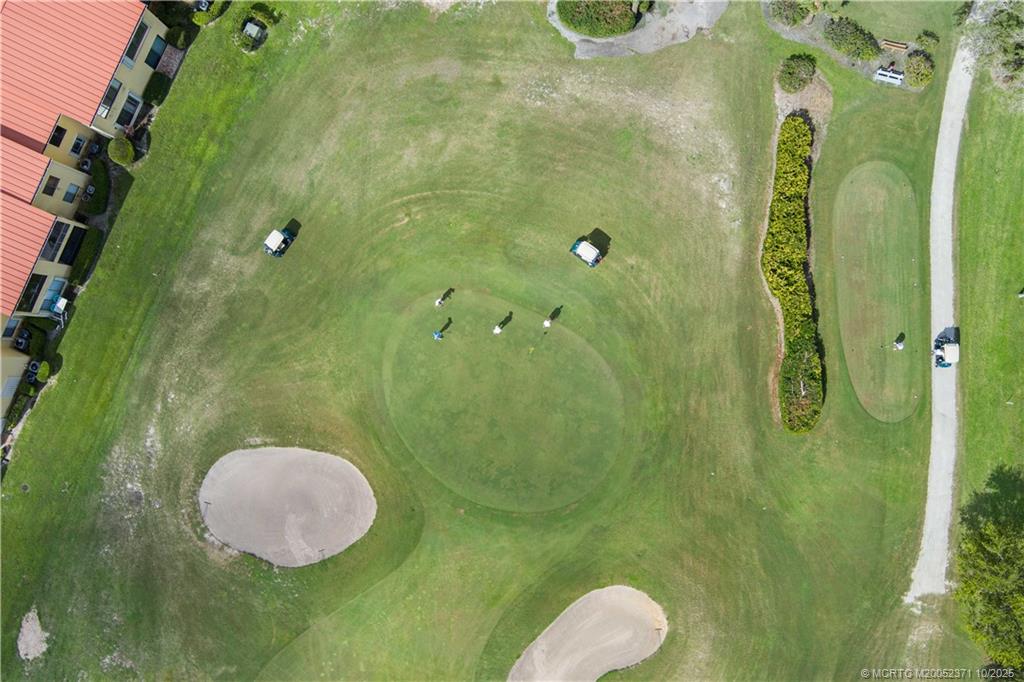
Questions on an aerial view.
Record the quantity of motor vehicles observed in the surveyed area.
3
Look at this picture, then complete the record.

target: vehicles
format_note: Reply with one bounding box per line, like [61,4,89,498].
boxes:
[573,241,600,265]
[265,231,292,258]
[935,339,959,365]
